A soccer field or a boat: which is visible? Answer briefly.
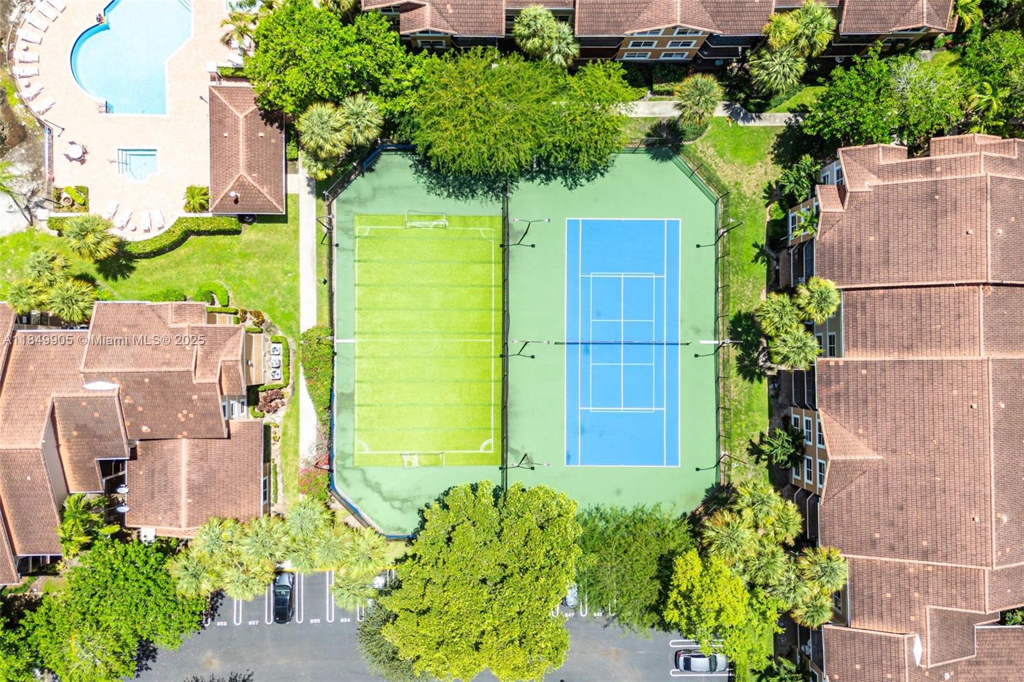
soccer field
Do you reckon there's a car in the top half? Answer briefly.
No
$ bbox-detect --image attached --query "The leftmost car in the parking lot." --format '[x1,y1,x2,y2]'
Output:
[269,574,294,626]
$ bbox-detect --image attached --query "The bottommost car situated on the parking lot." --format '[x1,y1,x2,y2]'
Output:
[675,649,726,675]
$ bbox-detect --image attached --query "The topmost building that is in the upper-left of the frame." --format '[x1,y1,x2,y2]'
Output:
[208,85,286,214]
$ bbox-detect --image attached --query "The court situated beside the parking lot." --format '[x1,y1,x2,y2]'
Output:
[509,149,716,535]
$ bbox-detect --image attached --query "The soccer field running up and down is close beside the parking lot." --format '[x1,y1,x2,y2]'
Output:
[335,151,505,536]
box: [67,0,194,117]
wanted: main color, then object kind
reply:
white swimming pool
